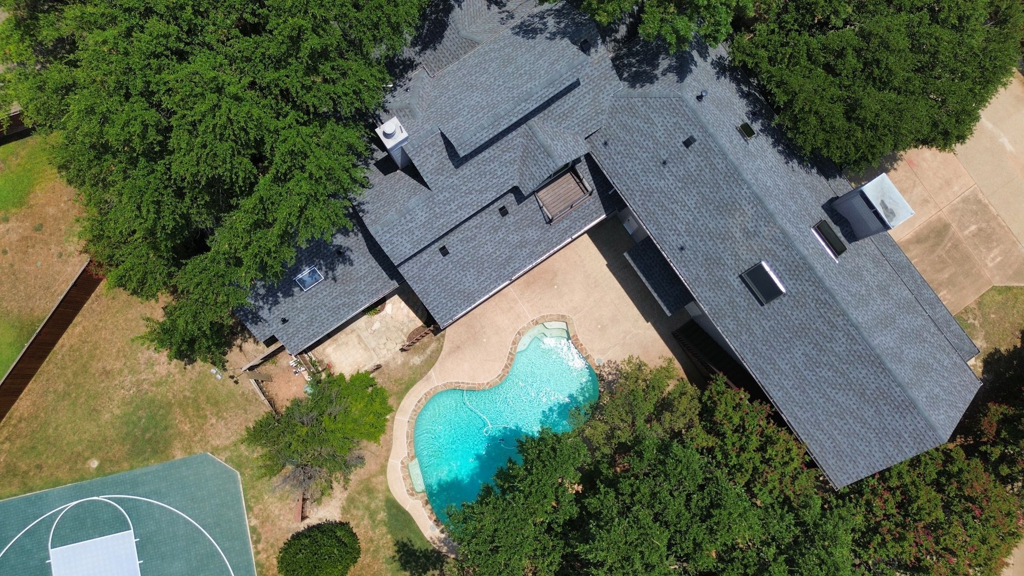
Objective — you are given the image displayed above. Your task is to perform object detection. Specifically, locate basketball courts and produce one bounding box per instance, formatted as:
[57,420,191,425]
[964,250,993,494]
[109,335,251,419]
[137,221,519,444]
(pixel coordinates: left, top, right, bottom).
[0,452,258,576]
